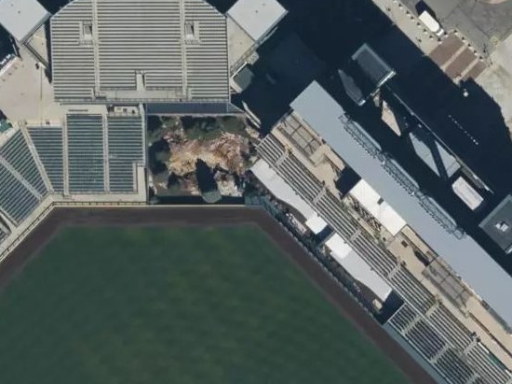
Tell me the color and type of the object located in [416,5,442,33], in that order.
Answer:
white truck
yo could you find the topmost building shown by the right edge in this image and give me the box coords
[365,84,497,221]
